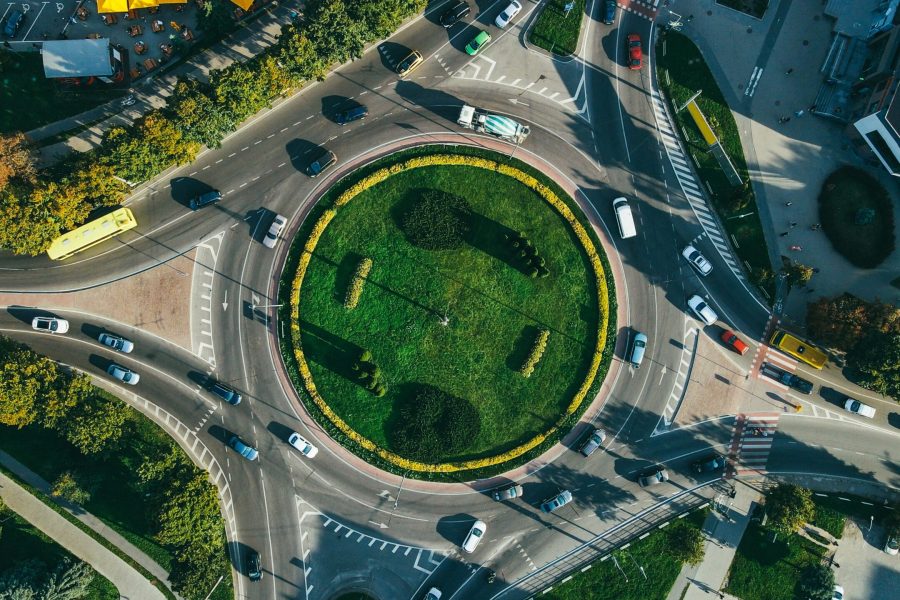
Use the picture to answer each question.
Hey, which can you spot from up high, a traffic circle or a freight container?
traffic circle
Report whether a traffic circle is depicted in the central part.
Yes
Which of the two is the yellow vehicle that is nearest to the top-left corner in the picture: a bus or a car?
bus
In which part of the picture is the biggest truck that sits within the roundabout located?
top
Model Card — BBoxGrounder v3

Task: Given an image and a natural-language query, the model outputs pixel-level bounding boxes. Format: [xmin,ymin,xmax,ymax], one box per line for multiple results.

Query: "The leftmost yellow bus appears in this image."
[44,206,143,265]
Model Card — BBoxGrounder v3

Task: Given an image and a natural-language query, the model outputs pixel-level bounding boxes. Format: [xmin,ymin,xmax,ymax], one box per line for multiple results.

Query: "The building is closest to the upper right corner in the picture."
[813,0,900,180]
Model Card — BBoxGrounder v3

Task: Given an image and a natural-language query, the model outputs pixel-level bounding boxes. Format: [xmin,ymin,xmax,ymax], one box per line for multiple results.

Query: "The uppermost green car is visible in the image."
[463,29,493,59]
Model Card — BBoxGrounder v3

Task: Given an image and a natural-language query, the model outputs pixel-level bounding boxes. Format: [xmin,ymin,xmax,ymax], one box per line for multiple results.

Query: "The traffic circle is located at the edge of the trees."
[212,77,684,549]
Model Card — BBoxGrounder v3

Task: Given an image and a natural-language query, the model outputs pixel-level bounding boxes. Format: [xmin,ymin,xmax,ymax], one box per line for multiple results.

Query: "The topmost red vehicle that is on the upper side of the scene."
[625,35,644,72]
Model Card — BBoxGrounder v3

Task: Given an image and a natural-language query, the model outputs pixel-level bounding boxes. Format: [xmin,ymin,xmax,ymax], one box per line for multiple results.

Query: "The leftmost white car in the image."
[29,316,69,335]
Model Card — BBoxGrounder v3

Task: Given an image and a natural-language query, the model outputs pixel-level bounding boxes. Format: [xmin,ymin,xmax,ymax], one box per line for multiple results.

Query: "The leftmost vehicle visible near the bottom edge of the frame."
[245,547,264,580]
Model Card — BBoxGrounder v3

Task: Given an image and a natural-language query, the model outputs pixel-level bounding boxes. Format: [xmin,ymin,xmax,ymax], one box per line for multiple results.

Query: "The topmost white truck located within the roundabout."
[454,101,529,142]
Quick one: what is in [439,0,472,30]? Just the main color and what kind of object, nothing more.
black car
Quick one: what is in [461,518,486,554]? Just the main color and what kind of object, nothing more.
white car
